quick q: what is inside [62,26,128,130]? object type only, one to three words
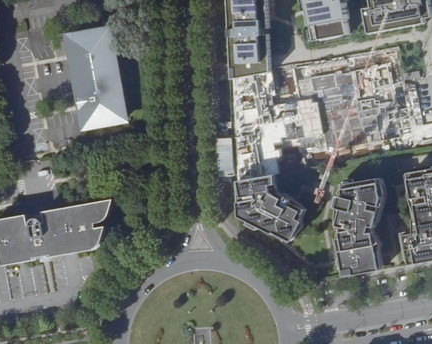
building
